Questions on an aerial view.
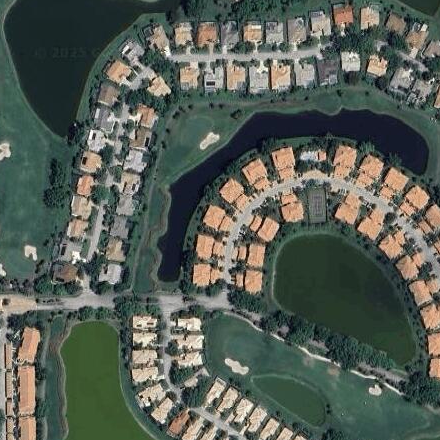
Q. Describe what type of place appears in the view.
residential area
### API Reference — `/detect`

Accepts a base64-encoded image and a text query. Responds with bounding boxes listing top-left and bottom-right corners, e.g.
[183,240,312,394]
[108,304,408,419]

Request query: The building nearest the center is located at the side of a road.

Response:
[200,203,234,234]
